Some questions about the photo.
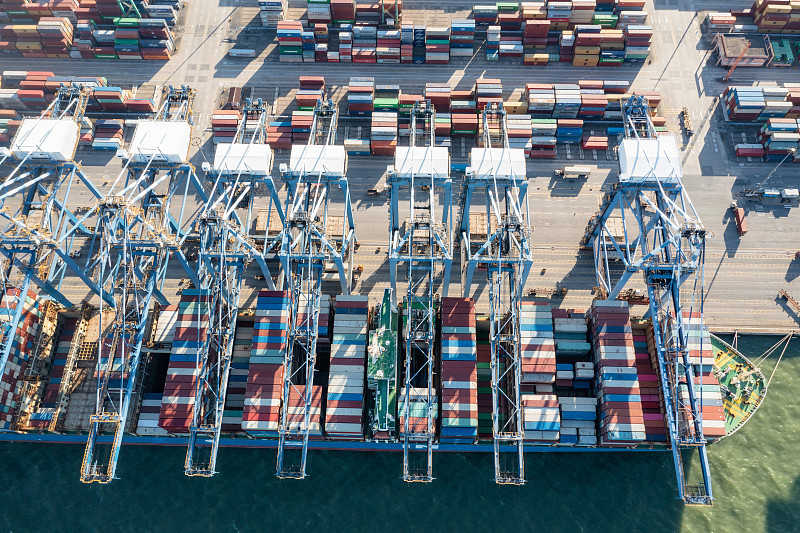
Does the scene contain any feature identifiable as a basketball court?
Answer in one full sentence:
No, there appears to be no basketball court in this shot.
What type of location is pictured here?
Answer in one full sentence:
It's a port.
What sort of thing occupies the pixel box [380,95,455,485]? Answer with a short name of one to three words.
container crane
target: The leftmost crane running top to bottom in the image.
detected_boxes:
[0,78,136,403]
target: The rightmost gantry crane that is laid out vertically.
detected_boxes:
[578,103,720,505]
